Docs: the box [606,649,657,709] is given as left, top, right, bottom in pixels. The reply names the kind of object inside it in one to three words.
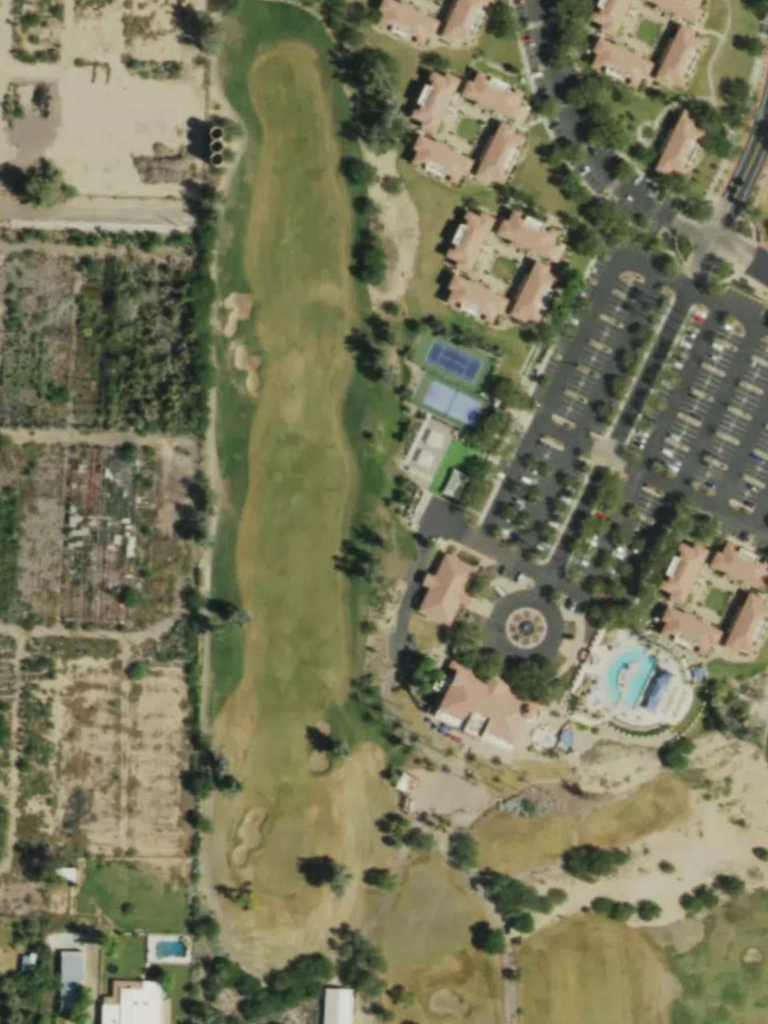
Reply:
swimming pool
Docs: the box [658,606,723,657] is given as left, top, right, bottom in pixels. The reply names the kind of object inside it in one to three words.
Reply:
building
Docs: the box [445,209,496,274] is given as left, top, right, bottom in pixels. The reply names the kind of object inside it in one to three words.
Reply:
building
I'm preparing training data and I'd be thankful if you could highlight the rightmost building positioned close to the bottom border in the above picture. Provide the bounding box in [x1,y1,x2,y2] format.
[324,990,354,1024]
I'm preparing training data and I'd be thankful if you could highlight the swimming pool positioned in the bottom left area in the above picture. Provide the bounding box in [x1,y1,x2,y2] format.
[148,934,191,964]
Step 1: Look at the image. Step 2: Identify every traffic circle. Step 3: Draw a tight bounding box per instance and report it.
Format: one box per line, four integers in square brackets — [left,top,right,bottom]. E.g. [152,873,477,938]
[506,608,547,649]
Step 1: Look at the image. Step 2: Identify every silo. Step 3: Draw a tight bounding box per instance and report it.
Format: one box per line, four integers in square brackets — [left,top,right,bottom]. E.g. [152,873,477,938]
[209,124,224,138]
[210,151,224,166]
[210,138,224,152]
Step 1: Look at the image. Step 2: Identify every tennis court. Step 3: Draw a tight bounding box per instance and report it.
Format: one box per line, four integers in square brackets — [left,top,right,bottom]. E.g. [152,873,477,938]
[415,332,496,386]
[411,363,483,429]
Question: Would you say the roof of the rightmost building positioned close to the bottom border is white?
Yes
